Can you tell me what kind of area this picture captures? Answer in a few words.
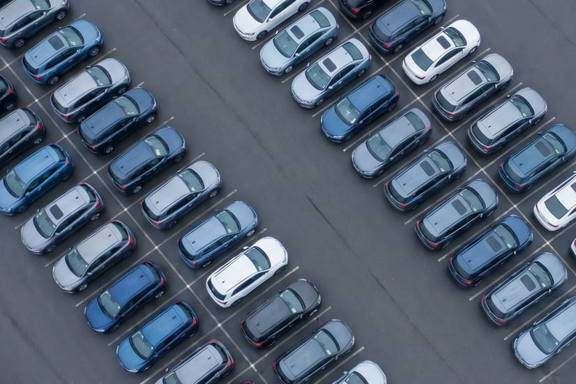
parking lot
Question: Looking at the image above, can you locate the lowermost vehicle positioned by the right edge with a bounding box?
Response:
[513,293,576,369]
